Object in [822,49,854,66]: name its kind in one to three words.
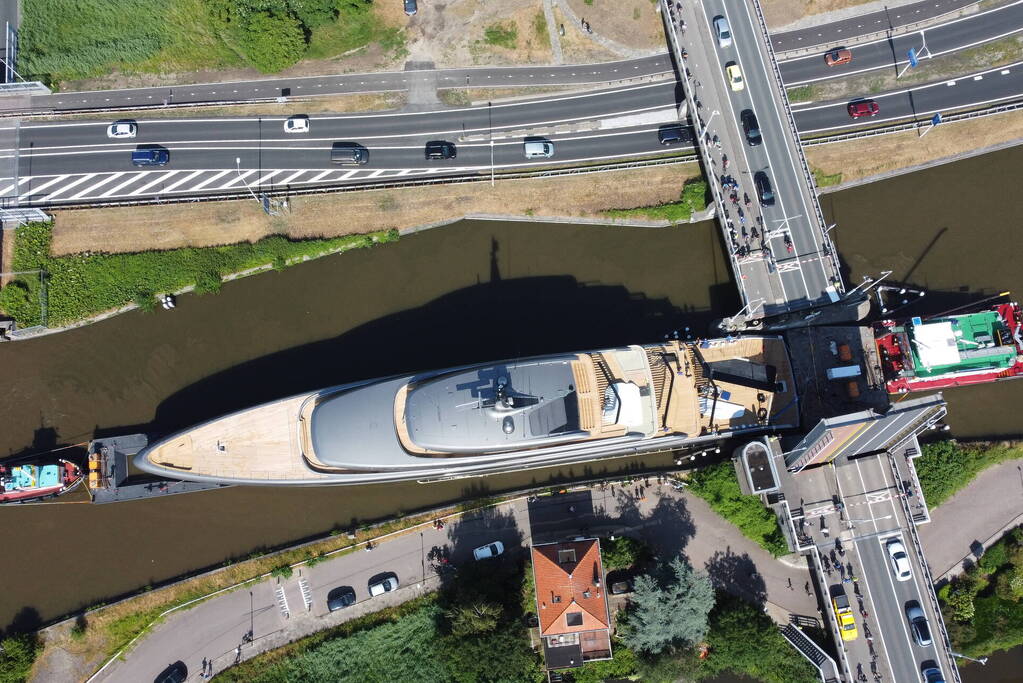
car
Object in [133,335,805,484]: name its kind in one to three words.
boat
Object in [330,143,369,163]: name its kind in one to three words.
vehicle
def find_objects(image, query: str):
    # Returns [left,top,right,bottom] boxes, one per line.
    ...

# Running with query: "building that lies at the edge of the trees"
[530,537,610,671]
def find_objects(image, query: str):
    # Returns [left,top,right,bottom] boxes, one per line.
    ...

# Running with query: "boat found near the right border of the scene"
[877,290,1023,396]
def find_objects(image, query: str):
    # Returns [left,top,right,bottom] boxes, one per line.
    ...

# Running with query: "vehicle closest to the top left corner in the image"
[107,122,139,138]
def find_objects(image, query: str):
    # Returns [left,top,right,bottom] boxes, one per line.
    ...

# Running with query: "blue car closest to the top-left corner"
[131,147,170,166]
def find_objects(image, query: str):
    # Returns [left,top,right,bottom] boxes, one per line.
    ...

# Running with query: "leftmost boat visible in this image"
[0,457,89,505]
